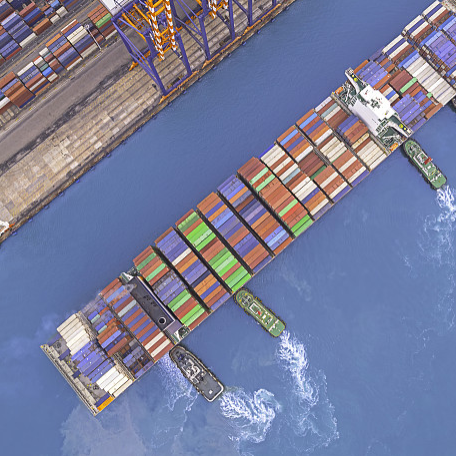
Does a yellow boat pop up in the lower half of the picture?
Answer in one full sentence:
No, no yellow boat is visible in the lower half of the picture.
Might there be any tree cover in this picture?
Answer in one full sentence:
No, tree cover can't be seen anywhere here.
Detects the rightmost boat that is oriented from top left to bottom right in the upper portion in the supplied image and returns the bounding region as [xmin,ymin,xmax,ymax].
[403,136,449,190]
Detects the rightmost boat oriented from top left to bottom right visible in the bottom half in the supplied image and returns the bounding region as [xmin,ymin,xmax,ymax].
[233,287,287,341]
